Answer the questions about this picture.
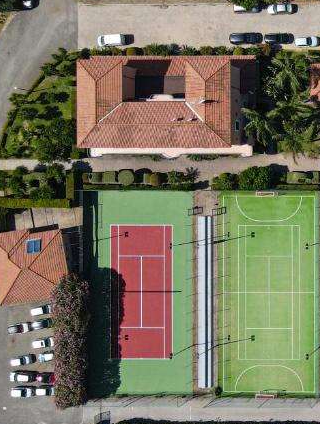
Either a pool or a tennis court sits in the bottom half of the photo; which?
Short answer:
tennis court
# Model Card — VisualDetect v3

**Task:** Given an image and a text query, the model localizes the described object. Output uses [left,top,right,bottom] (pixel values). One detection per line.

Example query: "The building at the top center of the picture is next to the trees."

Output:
[76,56,266,158]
